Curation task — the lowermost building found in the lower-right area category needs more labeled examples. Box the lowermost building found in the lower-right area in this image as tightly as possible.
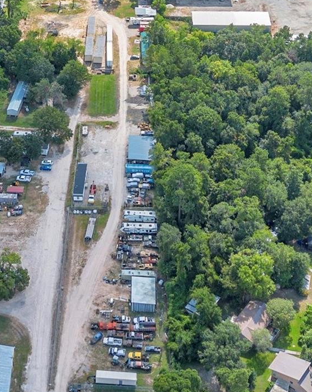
[268,349,312,392]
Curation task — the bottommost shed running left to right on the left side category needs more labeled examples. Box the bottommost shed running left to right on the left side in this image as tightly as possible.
[95,370,137,384]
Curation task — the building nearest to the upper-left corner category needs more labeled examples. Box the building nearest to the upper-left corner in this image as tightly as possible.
[7,79,27,118]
